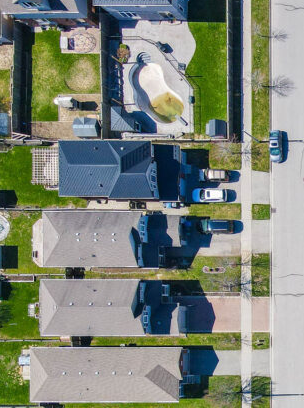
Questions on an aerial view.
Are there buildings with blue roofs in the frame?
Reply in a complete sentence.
Yes, a building with a blue roof is visible in the scene.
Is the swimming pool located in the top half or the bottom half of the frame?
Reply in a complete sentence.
You can find the swimming pool in the top half.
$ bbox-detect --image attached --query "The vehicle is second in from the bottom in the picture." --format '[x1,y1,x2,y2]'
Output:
[193,187,229,203]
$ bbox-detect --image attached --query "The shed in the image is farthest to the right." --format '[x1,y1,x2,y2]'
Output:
[206,118,228,139]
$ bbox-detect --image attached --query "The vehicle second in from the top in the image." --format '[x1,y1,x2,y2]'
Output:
[205,168,233,183]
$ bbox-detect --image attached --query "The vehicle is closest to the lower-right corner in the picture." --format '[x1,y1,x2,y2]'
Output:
[203,218,236,234]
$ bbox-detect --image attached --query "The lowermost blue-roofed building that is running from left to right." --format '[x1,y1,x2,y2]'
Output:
[57,140,189,201]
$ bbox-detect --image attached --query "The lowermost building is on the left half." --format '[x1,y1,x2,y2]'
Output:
[30,347,201,402]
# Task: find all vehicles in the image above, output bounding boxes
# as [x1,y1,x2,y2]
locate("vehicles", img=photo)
[193,187,229,203]
[269,130,284,163]
[205,168,233,183]
[203,218,236,234]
